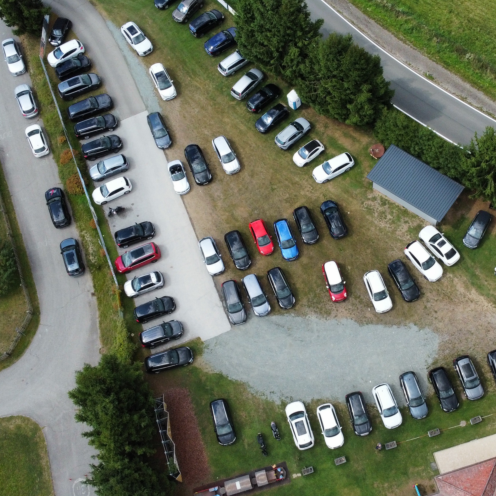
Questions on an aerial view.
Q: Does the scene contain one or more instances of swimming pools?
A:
No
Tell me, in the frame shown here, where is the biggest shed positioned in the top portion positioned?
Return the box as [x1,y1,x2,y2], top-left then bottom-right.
[366,143,465,225]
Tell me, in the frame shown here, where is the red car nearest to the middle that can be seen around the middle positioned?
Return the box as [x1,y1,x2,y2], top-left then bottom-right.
[249,218,274,256]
